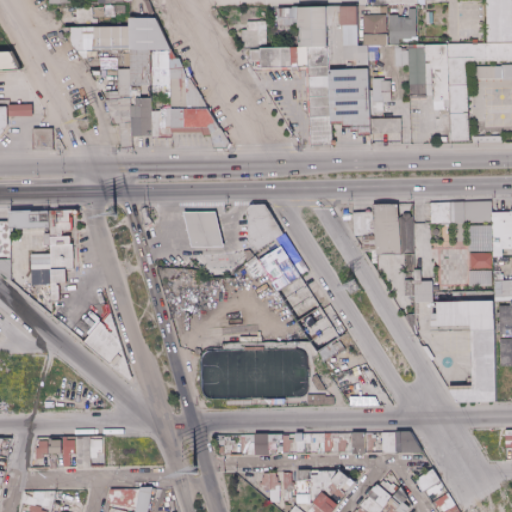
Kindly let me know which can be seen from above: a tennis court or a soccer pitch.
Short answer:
soccer pitch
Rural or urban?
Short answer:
urban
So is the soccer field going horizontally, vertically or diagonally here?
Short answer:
horizontally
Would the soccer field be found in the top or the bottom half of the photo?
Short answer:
bottom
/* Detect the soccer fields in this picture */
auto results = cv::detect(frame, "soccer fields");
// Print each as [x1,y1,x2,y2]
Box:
[200,349,308,399]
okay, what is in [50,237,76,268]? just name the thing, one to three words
house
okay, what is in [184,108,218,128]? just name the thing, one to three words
building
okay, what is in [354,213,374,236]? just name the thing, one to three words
house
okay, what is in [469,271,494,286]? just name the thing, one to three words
building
